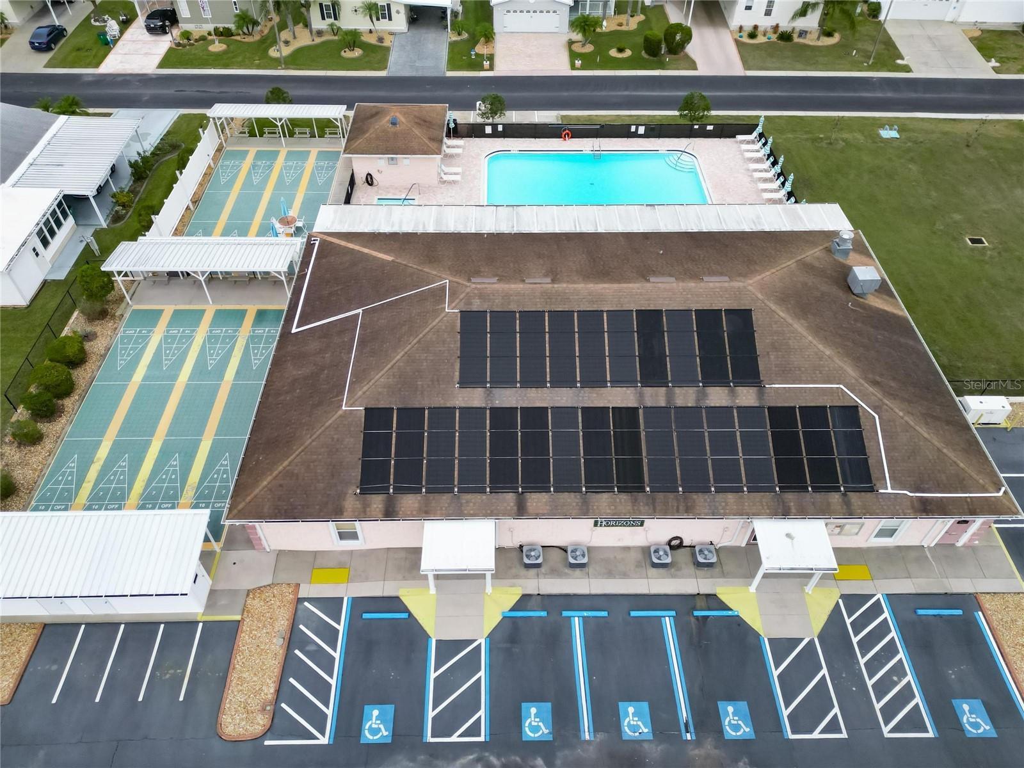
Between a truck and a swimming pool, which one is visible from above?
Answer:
swimming pool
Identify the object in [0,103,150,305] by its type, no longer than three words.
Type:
house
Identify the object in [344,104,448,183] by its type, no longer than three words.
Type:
building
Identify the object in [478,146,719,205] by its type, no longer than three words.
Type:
swimming pool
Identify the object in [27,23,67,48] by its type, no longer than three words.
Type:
car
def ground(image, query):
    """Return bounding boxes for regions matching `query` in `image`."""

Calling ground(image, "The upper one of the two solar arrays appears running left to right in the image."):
[455,309,764,387]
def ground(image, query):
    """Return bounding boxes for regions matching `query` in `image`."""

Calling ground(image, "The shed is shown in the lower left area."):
[0,508,223,624]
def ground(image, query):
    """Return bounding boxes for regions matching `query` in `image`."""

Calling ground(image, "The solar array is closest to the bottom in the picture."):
[356,405,877,494]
